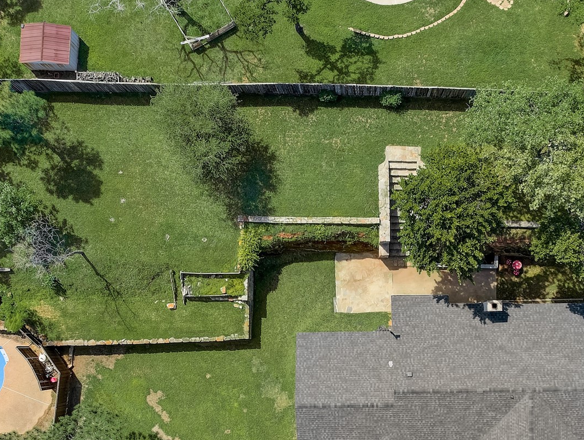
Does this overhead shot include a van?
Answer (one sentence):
No, the scene contains no van.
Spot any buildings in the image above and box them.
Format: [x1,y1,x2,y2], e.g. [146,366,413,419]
[20,22,78,73]
[295,295,584,440]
